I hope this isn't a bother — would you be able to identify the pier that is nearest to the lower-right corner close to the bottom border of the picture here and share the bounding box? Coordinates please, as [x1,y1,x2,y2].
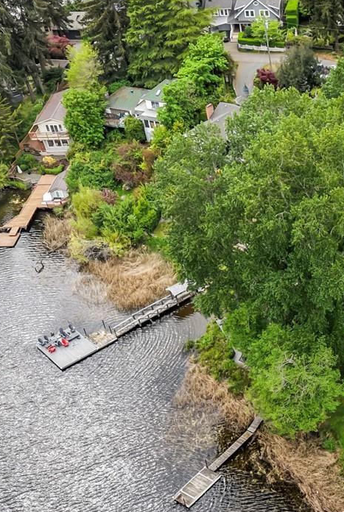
[173,417,259,510]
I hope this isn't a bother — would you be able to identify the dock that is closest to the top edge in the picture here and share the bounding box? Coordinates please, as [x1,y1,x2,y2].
[3,175,51,239]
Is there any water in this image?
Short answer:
Yes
